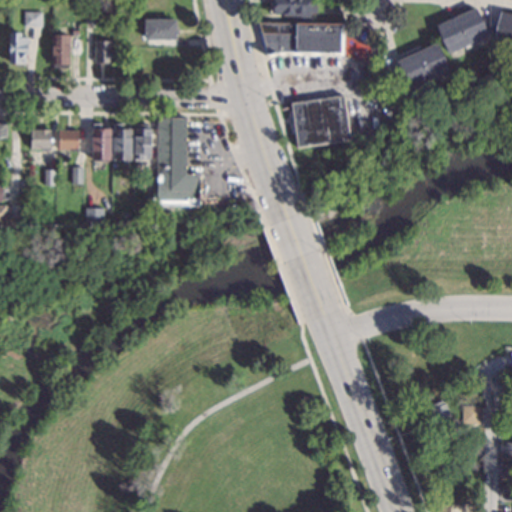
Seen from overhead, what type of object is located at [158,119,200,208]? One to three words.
building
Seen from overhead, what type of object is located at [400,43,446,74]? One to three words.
house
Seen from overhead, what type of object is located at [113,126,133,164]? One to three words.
house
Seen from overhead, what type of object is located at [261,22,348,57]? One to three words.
building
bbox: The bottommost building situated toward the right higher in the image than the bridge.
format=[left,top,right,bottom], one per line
[292,97,350,152]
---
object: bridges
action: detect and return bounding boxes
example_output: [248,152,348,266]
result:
[262,212,351,326]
